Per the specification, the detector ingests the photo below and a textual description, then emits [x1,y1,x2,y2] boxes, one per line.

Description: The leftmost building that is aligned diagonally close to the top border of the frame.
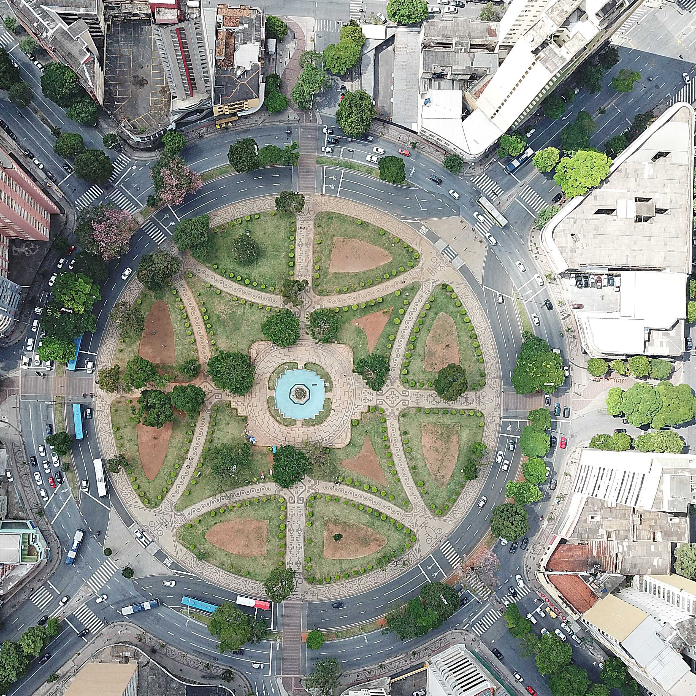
[0,0,109,115]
